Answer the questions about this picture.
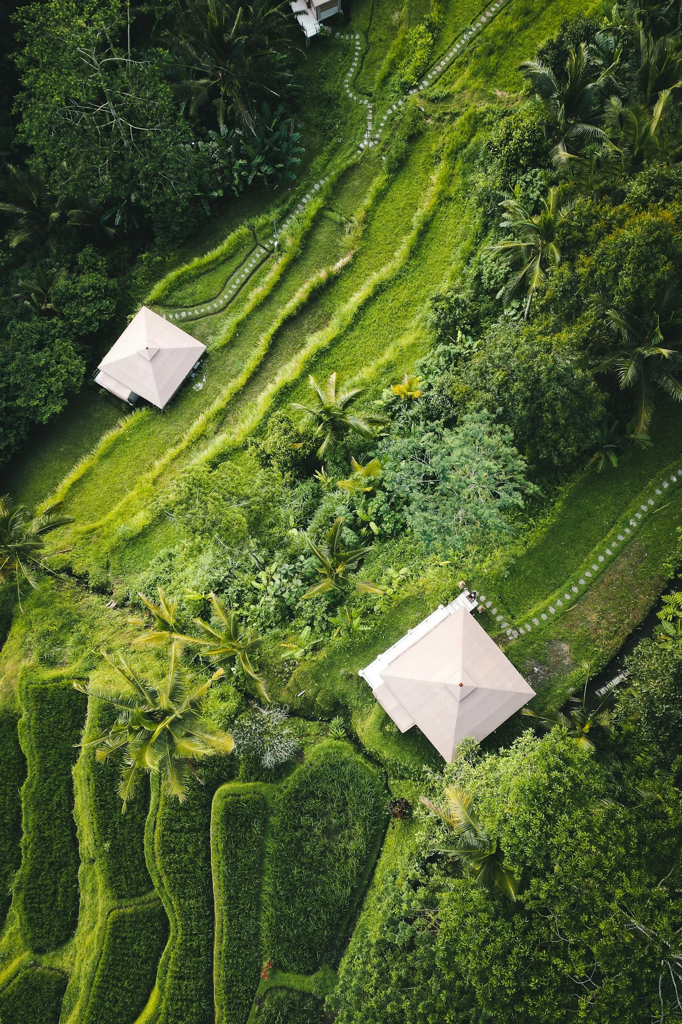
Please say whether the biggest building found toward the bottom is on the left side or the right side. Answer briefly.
right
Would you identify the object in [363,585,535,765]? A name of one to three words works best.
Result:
building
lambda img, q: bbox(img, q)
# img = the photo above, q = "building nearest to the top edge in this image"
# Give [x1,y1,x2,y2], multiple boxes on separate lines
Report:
[289,0,342,48]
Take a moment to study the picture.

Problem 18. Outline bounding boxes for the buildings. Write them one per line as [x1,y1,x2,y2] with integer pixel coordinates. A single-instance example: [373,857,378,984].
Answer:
[289,0,342,48]
[92,309,208,411]
[363,585,535,765]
